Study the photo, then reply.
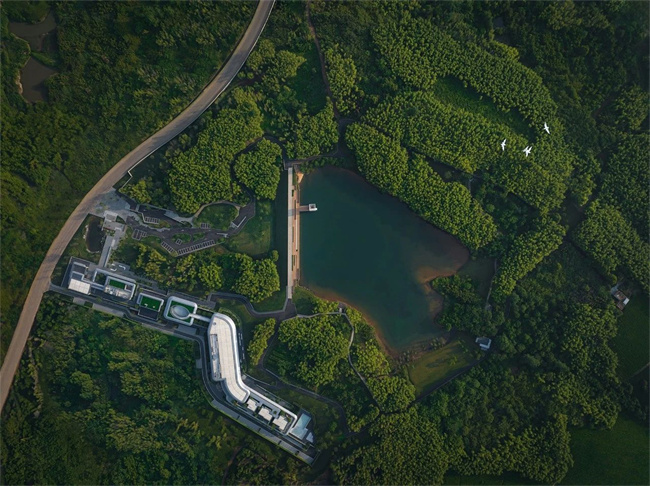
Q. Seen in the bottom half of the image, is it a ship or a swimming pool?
swimming pool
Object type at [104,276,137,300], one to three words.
building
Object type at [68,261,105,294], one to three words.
building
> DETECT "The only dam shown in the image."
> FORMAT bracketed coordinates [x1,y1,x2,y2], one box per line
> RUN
[286,162,300,291]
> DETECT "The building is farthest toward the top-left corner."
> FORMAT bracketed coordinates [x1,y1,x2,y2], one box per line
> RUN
[102,211,127,241]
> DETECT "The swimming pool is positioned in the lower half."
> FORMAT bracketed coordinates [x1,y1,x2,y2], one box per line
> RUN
[289,409,316,443]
